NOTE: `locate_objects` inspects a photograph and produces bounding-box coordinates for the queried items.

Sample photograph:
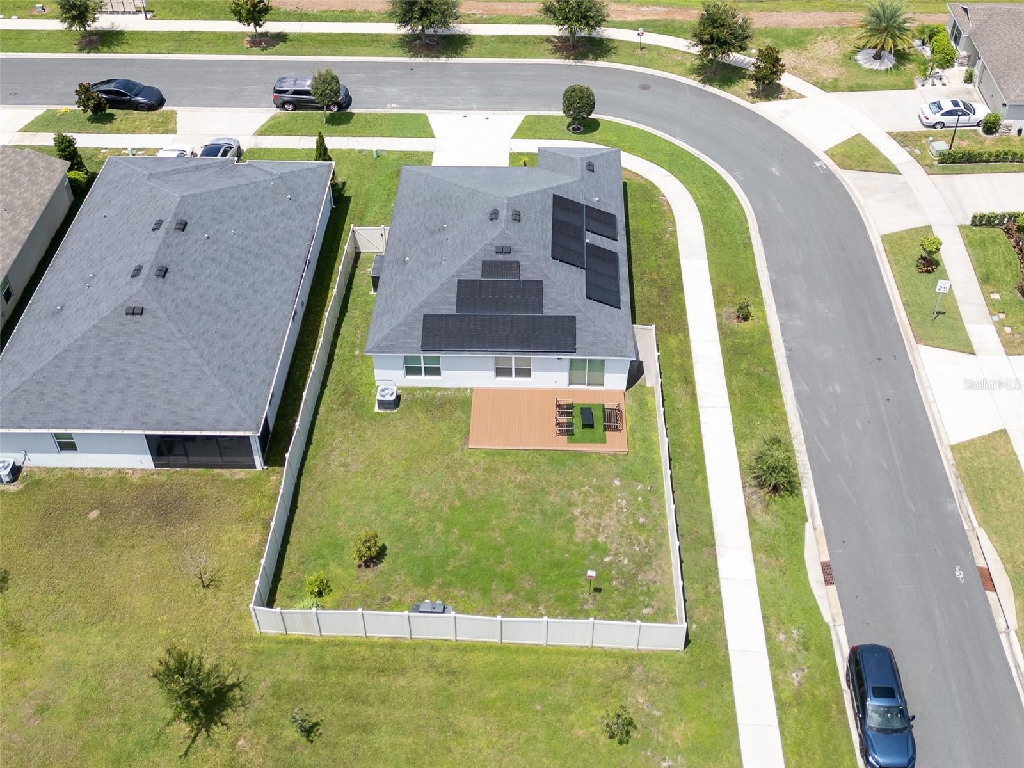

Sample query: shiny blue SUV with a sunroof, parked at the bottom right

[843,645,922,768]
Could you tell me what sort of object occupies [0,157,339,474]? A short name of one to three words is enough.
house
